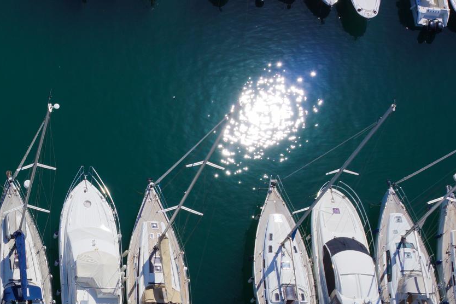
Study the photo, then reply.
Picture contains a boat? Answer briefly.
Yes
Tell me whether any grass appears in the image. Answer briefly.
No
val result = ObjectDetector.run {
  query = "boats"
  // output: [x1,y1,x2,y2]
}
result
[410,0,451,36]
[374,149,456,304]
[250,93,404,304]
[306,174,380,304]
[0,89,61,304]
[126,105,234,304]
[317,0,339,11]
[57,165,123,304]
[436,186,456,304]
[350,0,382,21]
